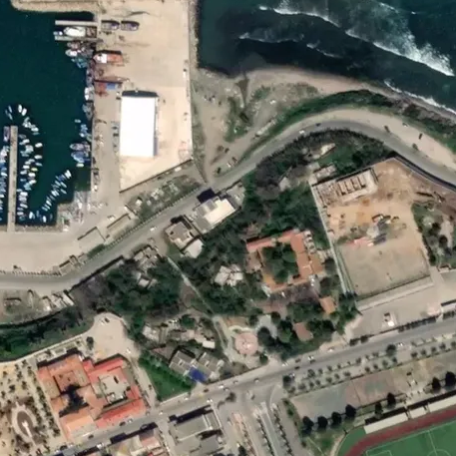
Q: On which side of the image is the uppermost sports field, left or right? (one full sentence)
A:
You can find the uppermost sports field on the right side of the picture.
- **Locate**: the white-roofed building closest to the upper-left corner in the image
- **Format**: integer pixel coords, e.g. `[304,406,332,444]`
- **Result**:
[120,97,158,156]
